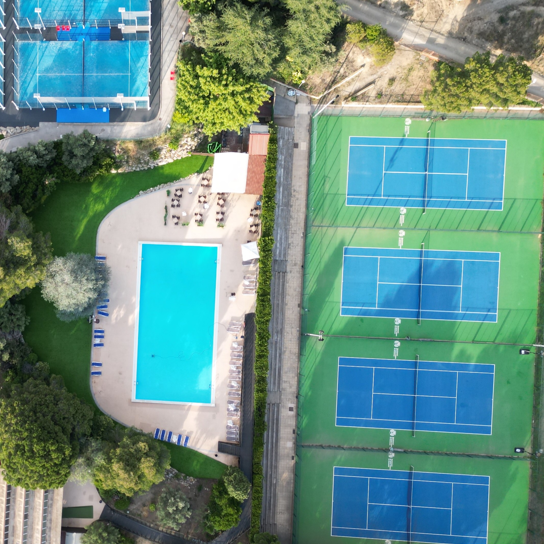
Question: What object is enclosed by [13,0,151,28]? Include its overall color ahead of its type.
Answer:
blue sports court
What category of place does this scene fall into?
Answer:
sports ground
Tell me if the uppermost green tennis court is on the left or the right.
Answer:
right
